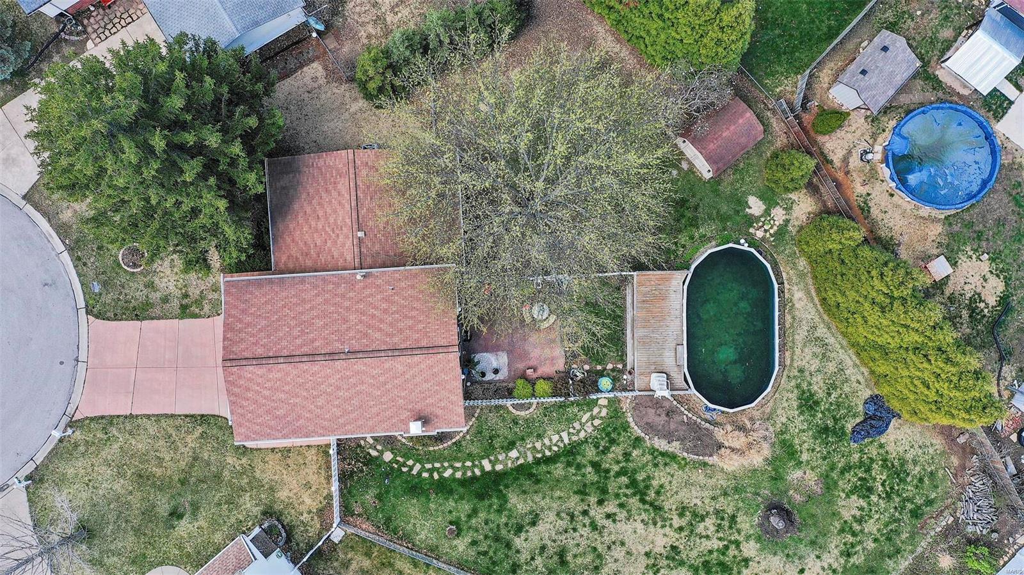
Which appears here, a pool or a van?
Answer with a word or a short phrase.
pool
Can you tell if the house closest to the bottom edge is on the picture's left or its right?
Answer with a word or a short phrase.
left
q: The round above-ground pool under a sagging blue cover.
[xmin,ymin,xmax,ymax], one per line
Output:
[877,99,1001,217]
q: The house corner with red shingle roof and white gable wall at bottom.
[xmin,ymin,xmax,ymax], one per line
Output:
[193,530,265,575]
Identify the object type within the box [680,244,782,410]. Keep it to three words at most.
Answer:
swimming pool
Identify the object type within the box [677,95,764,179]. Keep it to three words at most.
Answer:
shed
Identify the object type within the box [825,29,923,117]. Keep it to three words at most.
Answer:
shed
